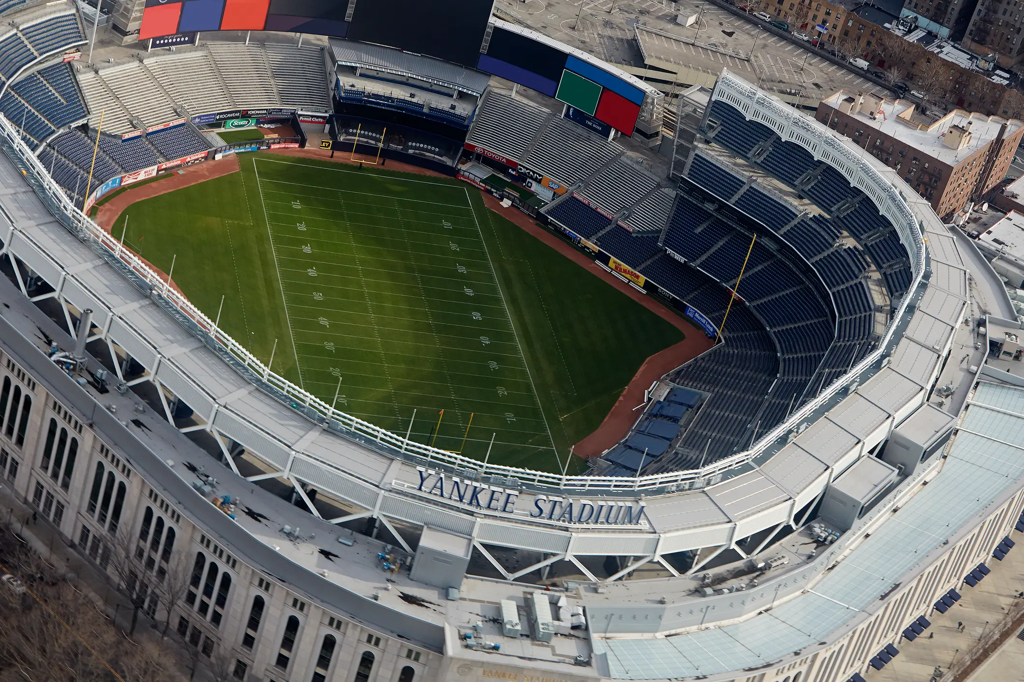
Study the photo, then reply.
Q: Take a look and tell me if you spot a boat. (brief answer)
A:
No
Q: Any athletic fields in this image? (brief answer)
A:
Yes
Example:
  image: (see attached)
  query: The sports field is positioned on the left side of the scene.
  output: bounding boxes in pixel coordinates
[111,151,684,487]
